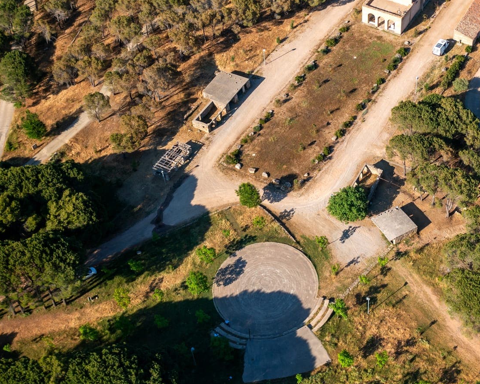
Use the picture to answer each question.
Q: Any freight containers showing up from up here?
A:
No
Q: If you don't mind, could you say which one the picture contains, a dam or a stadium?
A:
stadium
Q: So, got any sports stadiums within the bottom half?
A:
Yes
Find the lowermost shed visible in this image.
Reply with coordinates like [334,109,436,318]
[370,207,417,249]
